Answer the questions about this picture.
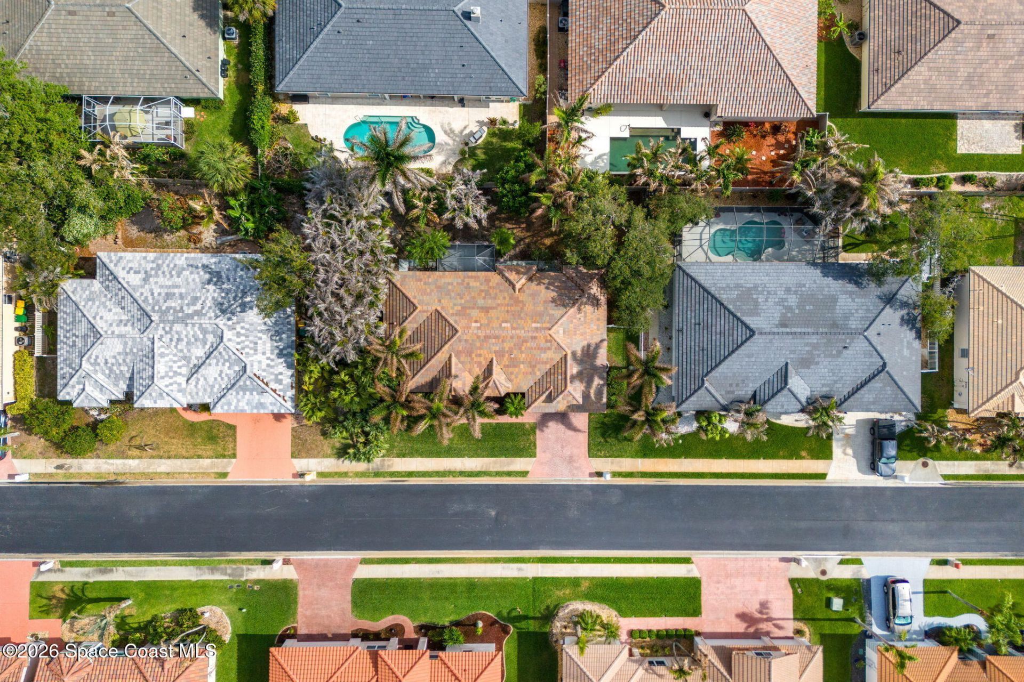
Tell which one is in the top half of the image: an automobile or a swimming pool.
swimming pool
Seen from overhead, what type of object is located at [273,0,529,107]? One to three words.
house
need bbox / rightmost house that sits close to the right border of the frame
[955,265,1024,418]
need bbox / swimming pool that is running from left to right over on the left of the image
[341,113,437,157]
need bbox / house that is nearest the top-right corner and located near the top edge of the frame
[858,0,1024,115]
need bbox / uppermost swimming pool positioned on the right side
[610,128,697,171]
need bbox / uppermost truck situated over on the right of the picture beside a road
[868,416,901,477]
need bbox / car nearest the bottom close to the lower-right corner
[882,577,915,632]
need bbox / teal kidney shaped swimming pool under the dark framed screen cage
[708,219,787,261]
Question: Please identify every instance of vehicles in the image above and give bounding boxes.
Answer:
[882,577,915,632]
[868,416,901,477]
[0,409,8,460]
